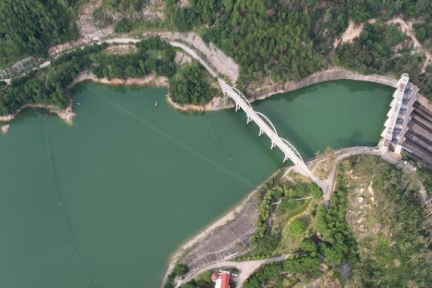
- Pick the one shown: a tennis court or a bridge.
bridge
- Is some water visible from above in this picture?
Yes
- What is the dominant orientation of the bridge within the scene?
diagonally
